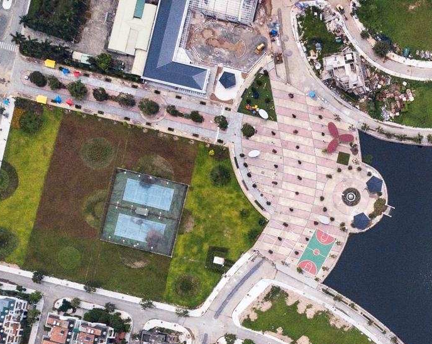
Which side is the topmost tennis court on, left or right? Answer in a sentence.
The topmost tennis court sits on the left side.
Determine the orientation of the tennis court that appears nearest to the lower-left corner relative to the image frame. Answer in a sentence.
The tennis court that appears nearest to the lower-left corner is laid out horizontally.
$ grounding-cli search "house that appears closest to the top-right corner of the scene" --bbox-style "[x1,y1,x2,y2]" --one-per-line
[323,51,366,98]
